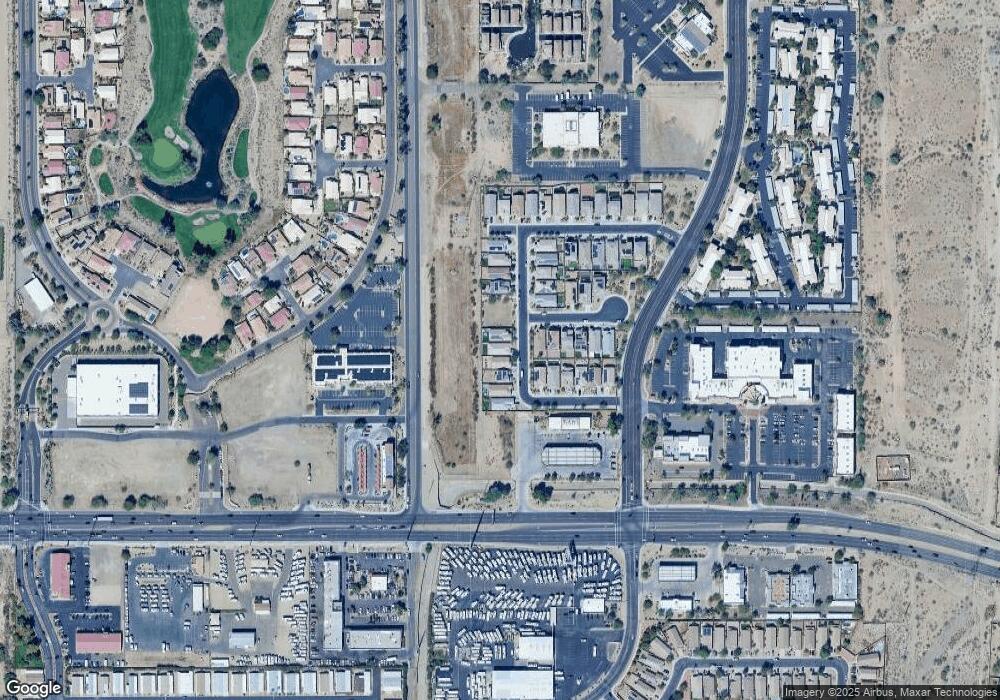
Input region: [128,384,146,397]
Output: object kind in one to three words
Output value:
solar panel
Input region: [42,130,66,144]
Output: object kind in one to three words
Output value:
house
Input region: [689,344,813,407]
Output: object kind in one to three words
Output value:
building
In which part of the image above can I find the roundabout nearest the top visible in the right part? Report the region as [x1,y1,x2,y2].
[743,143,772,171]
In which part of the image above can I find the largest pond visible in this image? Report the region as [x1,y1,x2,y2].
[143,69,239,204]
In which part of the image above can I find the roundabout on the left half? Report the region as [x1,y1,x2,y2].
[85,300,117,332]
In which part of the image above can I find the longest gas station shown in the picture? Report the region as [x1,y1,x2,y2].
[542,447,602,466]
